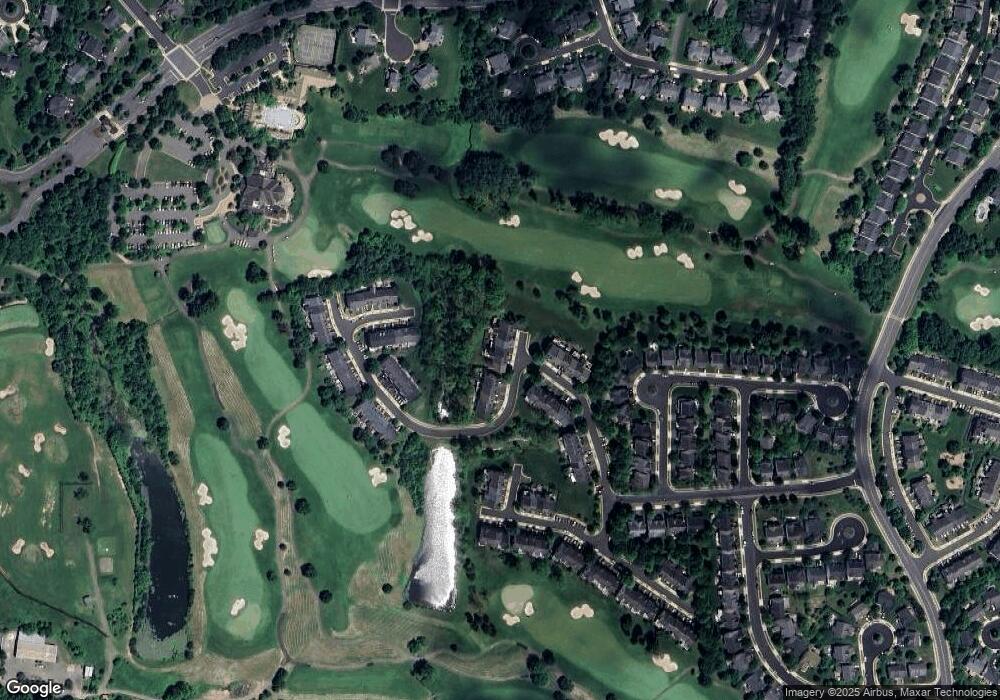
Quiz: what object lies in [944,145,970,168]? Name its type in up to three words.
house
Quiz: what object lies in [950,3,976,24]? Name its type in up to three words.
house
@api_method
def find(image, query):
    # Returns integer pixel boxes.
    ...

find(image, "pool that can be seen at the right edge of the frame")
[978,201,996,221]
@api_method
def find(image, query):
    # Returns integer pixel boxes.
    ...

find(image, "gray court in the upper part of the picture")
[296,26,337,65]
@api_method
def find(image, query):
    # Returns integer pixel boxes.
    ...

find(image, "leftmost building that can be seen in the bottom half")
[16,632,57,663]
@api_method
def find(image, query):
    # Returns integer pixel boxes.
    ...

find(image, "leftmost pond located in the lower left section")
[136,440,190,639]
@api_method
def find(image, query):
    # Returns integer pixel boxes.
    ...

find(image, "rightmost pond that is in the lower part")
[408,446,457,609]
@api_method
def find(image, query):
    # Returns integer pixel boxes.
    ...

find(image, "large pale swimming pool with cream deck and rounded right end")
[241,101,306,139]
